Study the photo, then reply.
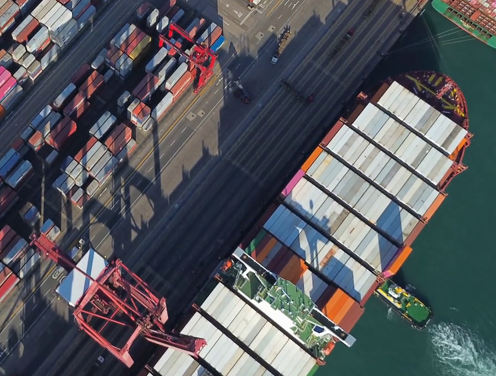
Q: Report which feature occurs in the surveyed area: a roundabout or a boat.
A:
boat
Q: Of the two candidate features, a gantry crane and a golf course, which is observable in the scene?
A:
gantry crane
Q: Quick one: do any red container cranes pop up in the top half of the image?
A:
Yes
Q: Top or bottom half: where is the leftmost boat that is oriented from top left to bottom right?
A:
bottom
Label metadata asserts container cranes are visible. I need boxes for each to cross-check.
[153,21,221,95]
[22,218,215,376]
